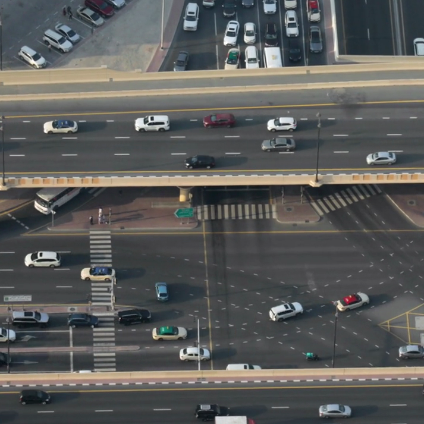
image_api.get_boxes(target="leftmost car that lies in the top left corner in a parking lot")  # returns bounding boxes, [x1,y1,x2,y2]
[17,44,47,69]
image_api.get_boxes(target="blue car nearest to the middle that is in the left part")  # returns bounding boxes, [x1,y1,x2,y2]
[155,282,168,302]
